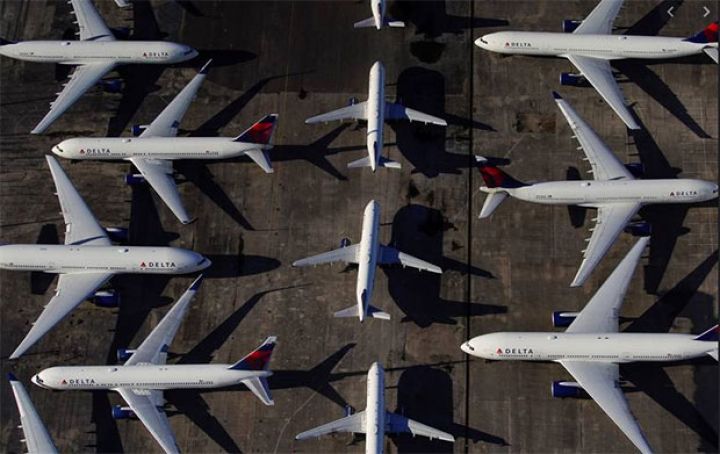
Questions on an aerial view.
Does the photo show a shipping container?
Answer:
No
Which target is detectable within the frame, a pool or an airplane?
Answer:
airplane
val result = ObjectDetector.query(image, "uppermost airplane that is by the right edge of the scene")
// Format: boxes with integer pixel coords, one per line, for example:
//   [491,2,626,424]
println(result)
[475,0,720,129]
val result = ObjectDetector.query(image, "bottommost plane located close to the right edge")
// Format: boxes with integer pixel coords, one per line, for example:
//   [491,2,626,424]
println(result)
[458,235,720,454]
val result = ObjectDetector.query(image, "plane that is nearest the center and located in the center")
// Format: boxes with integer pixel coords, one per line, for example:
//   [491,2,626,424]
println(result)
[293,202,439,322]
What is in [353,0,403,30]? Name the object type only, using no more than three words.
airplane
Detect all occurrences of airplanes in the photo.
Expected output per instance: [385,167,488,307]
[50,58,278,219]
[475,0,720,129]
[306,63,446,172]
[473,88,720,285]
[0,153,211,356]
[34,273,278,454]
[297,364,451,454]
[353,0,403,30]
[458,235,720,454]
[0,0,197,133]
[293,202,439,322]
[0,373,55,454]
